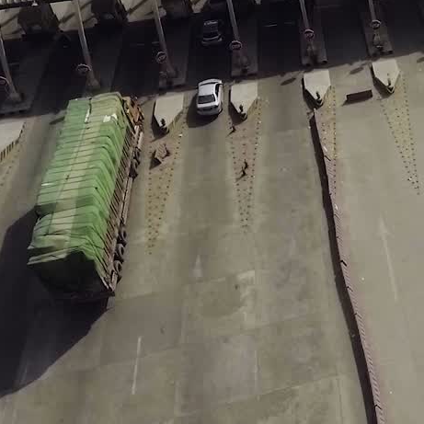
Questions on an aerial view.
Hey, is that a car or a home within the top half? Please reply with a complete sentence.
Looking within the top half, you will find a car.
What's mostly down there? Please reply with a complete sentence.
The scene is dominated by paved ground.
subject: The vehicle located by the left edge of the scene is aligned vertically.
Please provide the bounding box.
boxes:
[14,90,142,306]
